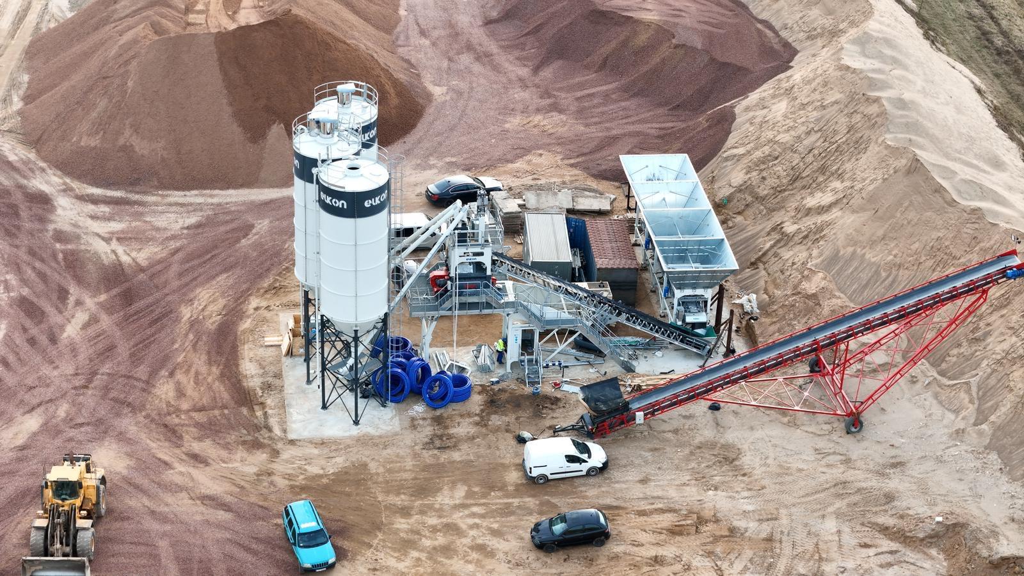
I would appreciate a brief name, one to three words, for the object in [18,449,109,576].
work vehicle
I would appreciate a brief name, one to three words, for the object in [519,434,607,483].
van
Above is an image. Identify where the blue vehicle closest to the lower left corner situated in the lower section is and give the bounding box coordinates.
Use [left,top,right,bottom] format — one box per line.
[286,496,334,574]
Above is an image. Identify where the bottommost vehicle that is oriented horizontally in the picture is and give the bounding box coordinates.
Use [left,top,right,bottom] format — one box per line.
[530,506,614,553]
